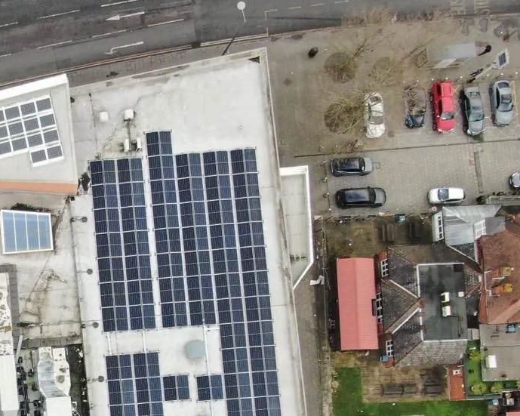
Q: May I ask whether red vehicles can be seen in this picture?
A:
Yes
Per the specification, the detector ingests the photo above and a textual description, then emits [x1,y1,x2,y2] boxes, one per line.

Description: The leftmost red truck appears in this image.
[430,78,458,133]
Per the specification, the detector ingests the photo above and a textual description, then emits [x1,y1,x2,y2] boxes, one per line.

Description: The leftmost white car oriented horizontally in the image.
[424,186,466,205]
